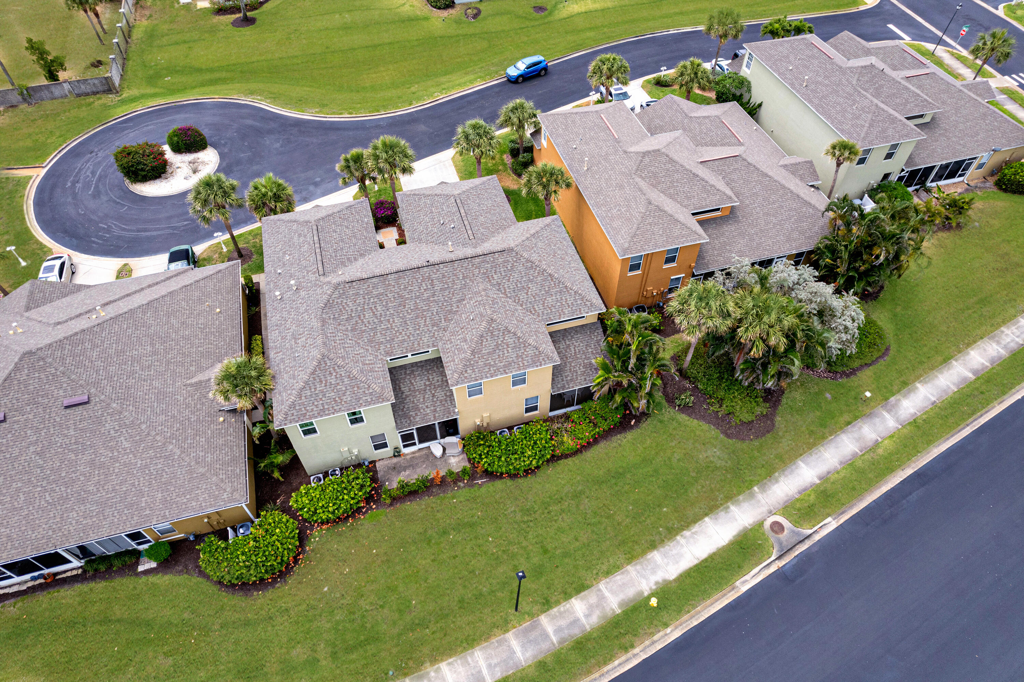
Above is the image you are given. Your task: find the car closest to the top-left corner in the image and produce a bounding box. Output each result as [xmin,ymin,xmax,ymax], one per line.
[46,246,86,271]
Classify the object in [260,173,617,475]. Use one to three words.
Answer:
house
